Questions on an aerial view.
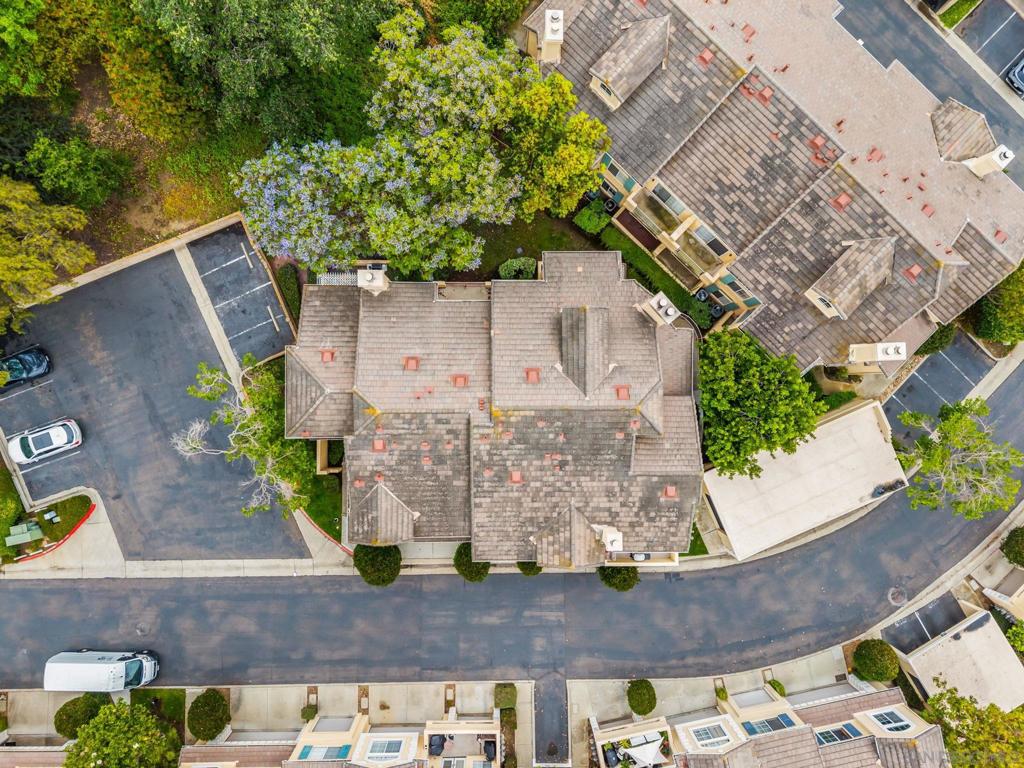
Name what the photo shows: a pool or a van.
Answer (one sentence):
Of the two, only a van appears.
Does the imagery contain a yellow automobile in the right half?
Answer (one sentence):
No, I see no yellow automobile in the right half.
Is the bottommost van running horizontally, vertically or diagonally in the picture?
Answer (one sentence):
The bottommost van has been laid out horizontally relative to the frame.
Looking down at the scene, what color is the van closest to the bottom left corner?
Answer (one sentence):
The color of the van closest to the bottom left corner is white.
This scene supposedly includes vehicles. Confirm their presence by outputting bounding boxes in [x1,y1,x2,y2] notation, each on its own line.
[0,348,57,392]
[1003,59,1024,97]
[11,419,86,463]
[46,648,159,693]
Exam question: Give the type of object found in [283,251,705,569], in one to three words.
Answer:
building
